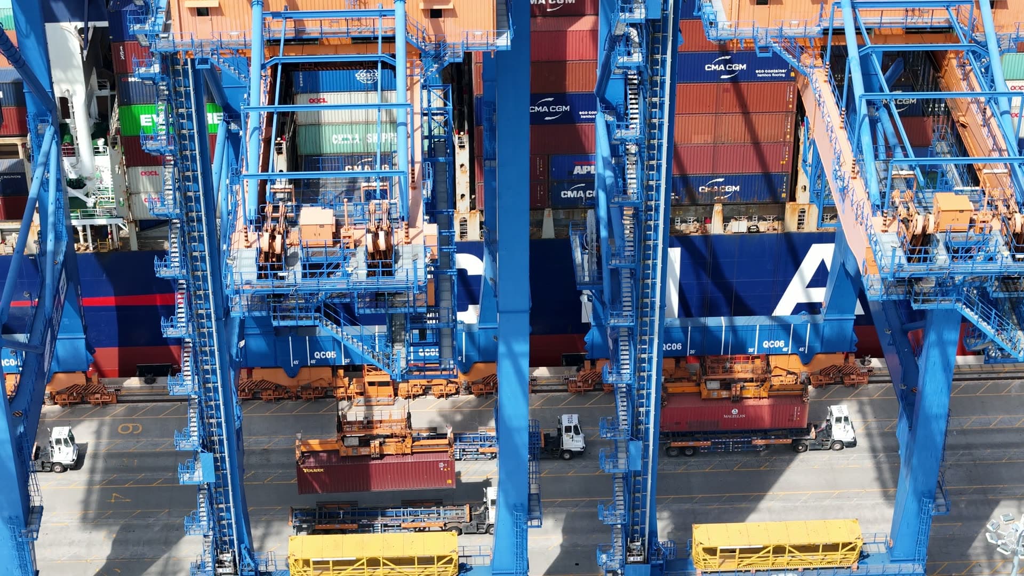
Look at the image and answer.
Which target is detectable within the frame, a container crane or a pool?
container crane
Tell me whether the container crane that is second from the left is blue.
Yes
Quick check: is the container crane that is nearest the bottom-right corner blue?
Yes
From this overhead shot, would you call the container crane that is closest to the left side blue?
Yes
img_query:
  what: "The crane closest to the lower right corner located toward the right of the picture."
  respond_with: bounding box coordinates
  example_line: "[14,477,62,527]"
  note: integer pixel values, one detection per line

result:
[567,0,1024,576]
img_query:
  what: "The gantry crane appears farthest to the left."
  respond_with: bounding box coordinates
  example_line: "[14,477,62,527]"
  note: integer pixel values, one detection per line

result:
[0,0,120,576]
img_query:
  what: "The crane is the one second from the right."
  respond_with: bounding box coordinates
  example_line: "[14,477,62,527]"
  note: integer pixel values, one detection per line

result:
[124,0,546,576]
